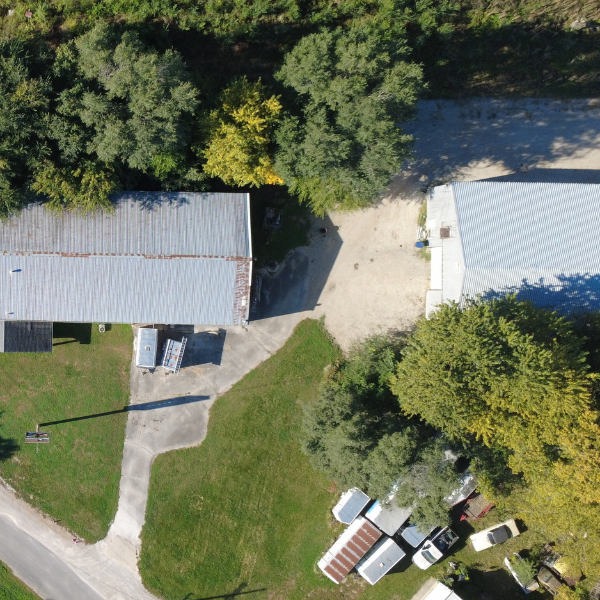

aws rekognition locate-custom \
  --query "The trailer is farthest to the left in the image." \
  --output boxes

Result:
[133,326,158,376]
